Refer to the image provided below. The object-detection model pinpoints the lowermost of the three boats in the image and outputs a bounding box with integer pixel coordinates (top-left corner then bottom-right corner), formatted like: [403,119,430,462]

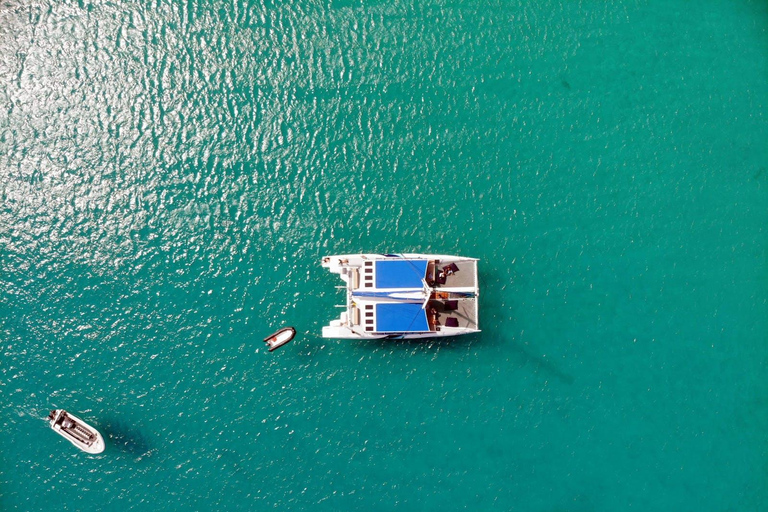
[45,407,104,455]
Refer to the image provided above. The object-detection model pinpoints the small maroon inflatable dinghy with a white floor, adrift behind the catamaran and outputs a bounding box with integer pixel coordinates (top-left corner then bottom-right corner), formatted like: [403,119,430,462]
[263,325,296,352]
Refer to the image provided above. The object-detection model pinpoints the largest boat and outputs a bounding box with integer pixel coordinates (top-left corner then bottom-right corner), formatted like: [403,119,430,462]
[322,253,485,340]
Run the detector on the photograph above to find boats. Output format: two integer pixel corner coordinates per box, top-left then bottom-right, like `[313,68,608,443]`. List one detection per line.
[322,253,485,340]
[263,325,296,352]
[45,407,104,455]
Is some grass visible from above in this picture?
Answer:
No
